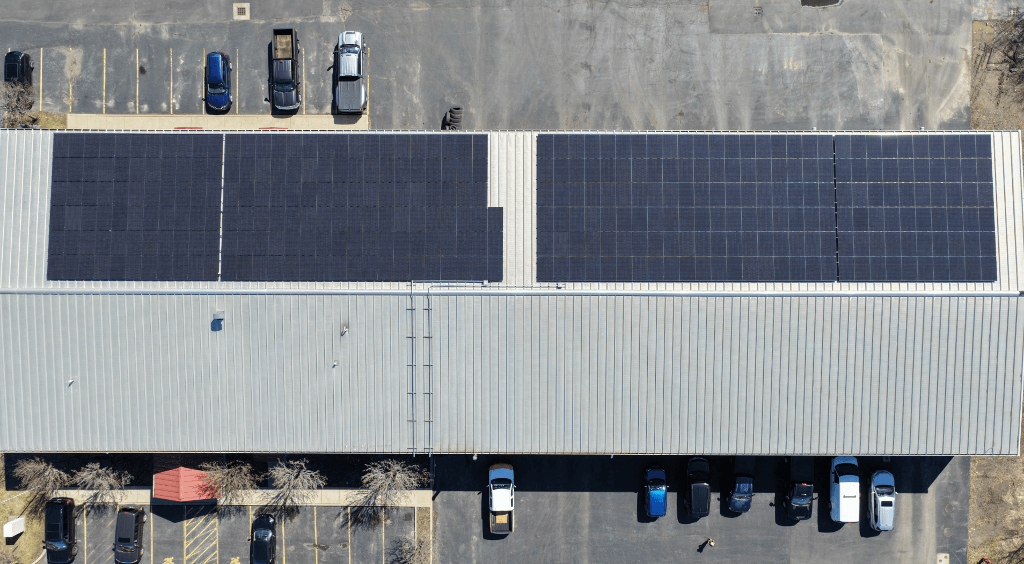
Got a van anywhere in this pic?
Yes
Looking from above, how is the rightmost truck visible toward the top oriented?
vertically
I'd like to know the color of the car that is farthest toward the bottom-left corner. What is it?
black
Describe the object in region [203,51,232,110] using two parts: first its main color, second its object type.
blue car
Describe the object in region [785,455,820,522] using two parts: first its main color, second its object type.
black truck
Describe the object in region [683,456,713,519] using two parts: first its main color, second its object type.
black car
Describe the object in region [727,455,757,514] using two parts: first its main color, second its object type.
black truck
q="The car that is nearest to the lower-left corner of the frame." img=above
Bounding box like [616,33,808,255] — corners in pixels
[42,496,77,562]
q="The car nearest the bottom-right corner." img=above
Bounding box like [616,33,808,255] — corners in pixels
[867,470,898,532]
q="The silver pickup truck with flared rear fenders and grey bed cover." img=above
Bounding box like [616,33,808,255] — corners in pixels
[332,30,367,114]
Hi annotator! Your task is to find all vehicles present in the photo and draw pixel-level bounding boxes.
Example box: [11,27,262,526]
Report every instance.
[247,513,276,564]
[332,30,367,114]
[828,455,861,524]
[0,48,33,108]
[42,496,77,562]
[785,455,820,522]
[486,462,516,534]
[203,51,232,110]
[867,470,898,532]
[727,455,757,514]
[111,501,146,564]
[683,456,713,519]
[267,29,302,109]
[642,465,669,519]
